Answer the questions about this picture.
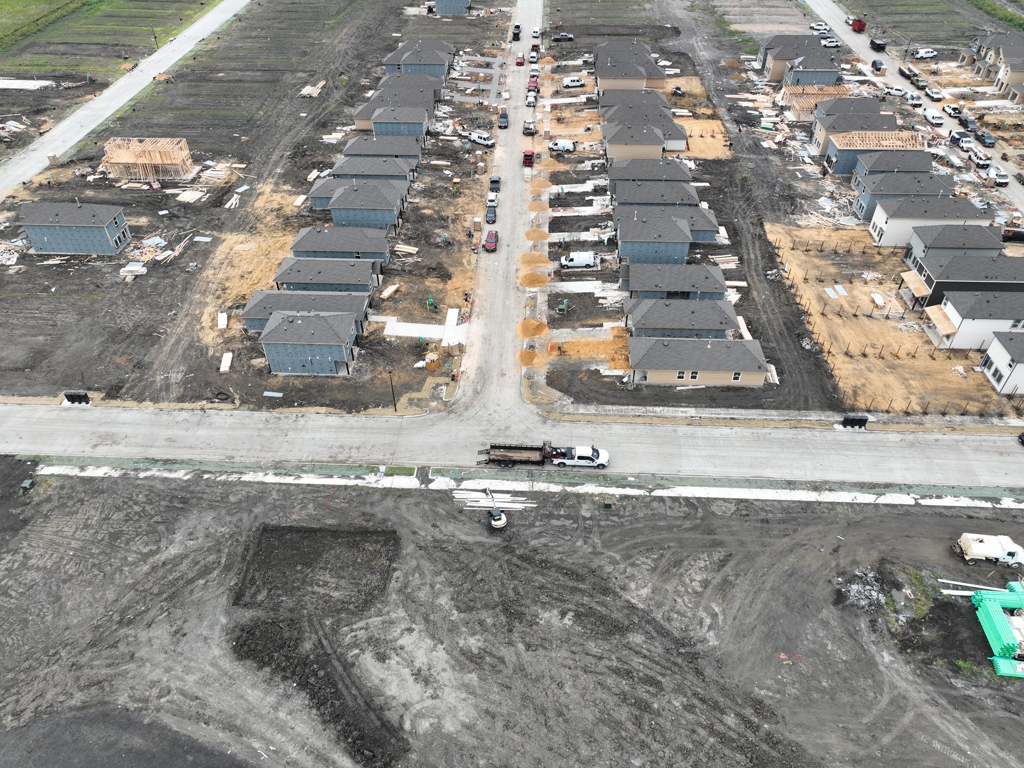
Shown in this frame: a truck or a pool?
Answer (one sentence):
This aerial view contains a truck.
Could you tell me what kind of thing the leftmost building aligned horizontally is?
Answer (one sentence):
I'd identify the leftmost building aligned horizontally as a residential house.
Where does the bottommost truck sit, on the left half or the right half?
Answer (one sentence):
The bottommost truck sits on the right side.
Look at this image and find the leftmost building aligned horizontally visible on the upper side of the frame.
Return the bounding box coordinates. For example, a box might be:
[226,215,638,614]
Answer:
[10,200,133,257]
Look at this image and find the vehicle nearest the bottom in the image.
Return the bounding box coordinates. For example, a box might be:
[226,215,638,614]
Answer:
[941,531,1024,568]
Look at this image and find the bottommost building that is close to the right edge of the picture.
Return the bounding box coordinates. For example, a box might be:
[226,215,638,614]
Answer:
[977,331,1024,396]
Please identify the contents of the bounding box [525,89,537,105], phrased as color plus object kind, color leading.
white vehicle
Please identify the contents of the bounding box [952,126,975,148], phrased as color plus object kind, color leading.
white truck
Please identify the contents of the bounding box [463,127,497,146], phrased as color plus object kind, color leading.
white vehicle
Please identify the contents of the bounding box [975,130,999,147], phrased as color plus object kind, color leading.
gray vehicle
